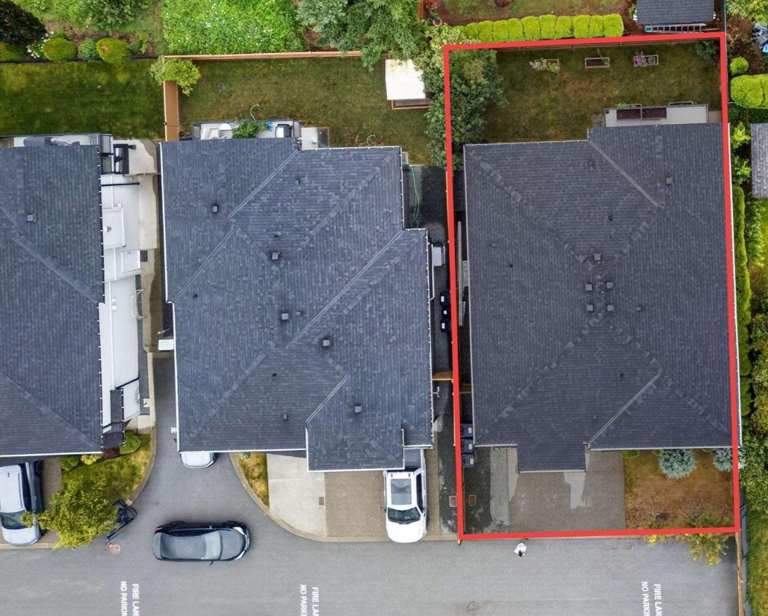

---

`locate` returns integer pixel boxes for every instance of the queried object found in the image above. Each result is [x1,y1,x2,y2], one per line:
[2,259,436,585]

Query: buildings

[0,146,148,457]
[158,138,439,473]
[462,123,738,473]
[384,58,431,108]
[636,0,717,26]
[752,123,768,198]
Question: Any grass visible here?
Yes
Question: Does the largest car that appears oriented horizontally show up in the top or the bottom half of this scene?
bottom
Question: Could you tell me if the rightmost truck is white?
Yes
